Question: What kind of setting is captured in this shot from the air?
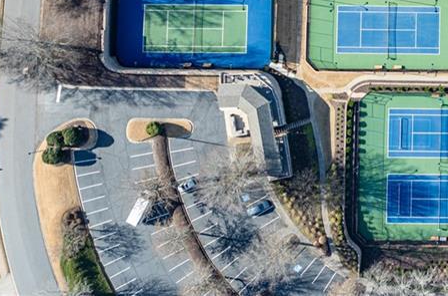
sports ground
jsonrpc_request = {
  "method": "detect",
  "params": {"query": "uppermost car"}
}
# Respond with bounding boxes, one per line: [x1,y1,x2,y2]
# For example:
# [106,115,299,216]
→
[177,177,198,192]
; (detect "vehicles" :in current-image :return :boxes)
[177,177,198,192]
[249,202,271,215]
[121,198,147,230]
